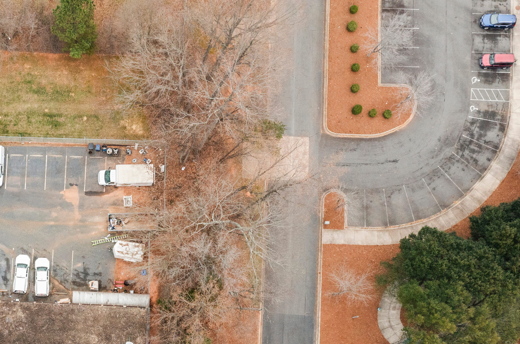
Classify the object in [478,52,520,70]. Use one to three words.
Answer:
car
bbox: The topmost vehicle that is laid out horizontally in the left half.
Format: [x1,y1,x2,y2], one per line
[99,164,156,188]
